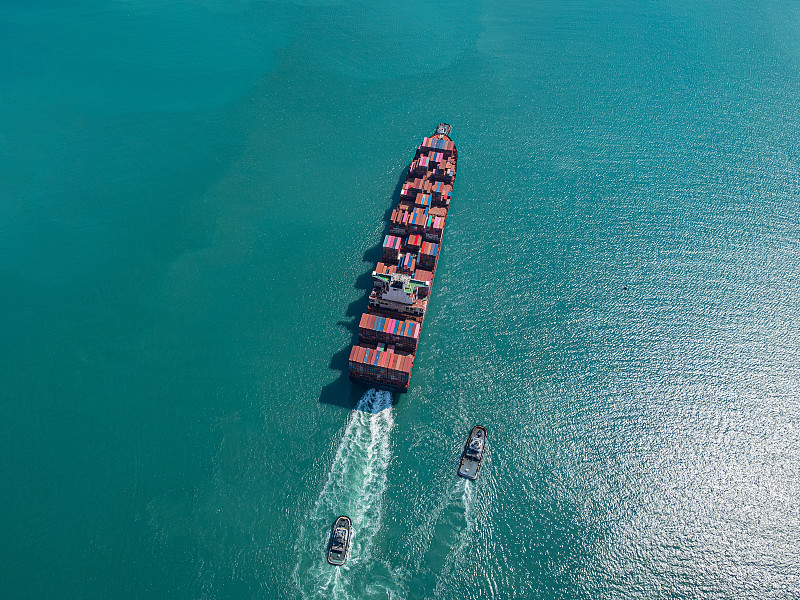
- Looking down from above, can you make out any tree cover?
No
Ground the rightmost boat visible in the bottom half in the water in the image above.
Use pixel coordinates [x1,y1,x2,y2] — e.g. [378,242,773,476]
[459,425,488,479]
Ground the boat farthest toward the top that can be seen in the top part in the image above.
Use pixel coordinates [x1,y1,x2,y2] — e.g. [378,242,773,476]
[435,123,451,137]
